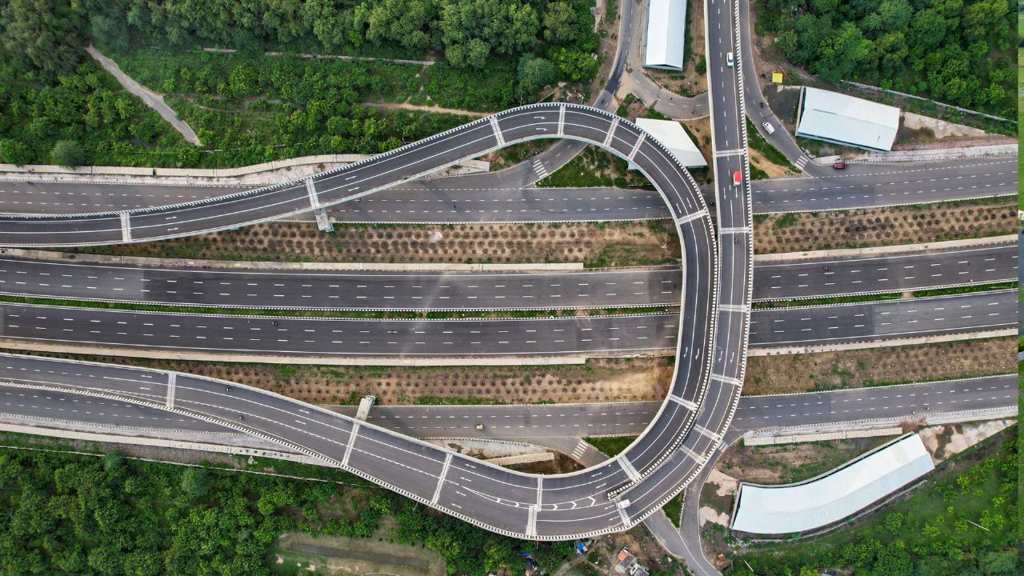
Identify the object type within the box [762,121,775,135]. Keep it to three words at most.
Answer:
vehicle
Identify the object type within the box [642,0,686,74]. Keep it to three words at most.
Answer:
shed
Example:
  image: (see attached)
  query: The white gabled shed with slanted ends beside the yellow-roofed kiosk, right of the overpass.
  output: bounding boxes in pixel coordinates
[792,87,900,154]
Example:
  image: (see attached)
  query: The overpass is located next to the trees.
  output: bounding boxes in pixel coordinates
[0,0,754,542]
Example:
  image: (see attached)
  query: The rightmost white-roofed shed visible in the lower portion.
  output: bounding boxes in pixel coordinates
[726,430,934,534]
